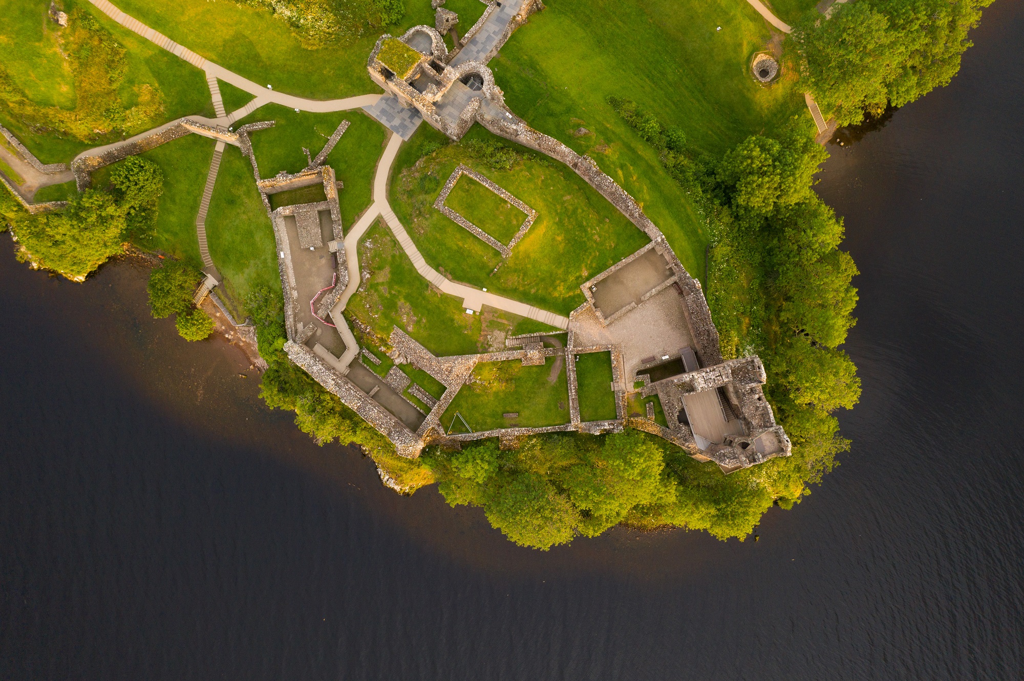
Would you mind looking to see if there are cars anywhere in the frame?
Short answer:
No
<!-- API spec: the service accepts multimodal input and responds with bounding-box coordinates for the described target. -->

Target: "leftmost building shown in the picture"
[256,165,351,344]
